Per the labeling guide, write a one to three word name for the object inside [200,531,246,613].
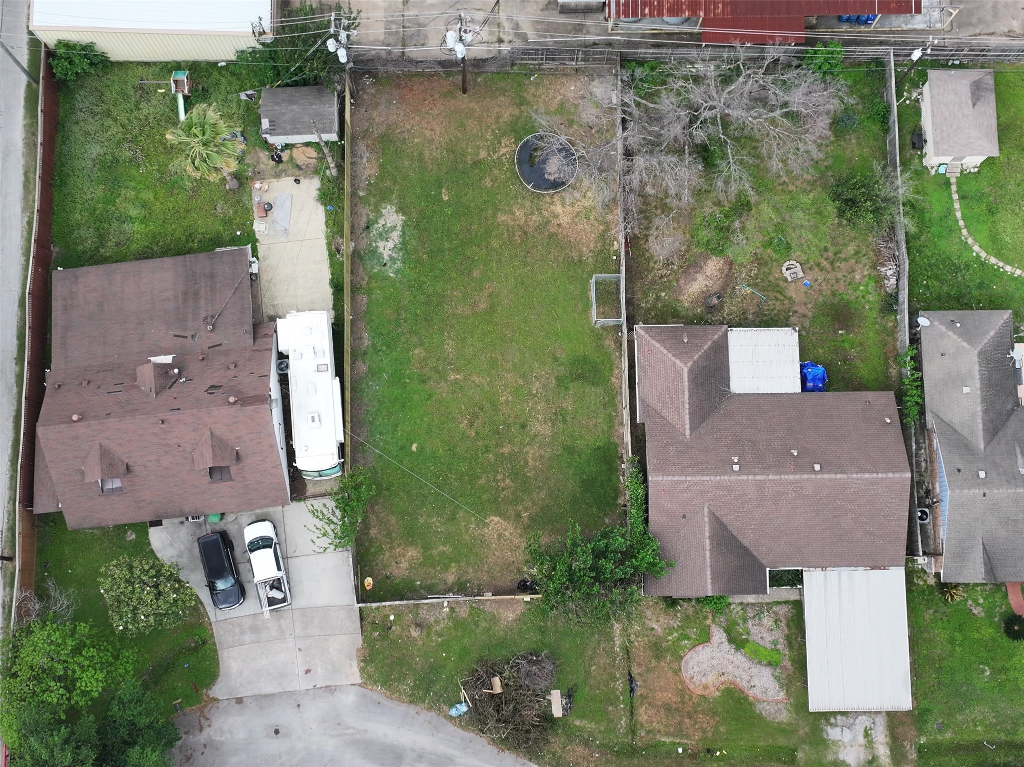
car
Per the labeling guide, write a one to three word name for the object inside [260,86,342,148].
shed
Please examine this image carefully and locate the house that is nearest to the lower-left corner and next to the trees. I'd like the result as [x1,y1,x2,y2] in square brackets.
[34,247,293,530]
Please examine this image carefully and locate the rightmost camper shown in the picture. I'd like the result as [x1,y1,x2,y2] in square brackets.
[281,313,350,483]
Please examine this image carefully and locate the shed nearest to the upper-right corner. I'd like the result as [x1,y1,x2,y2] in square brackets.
[915,68,1000,176]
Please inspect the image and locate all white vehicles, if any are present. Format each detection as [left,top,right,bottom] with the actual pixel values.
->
[281,313,350,483]
[245,516,293,615]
